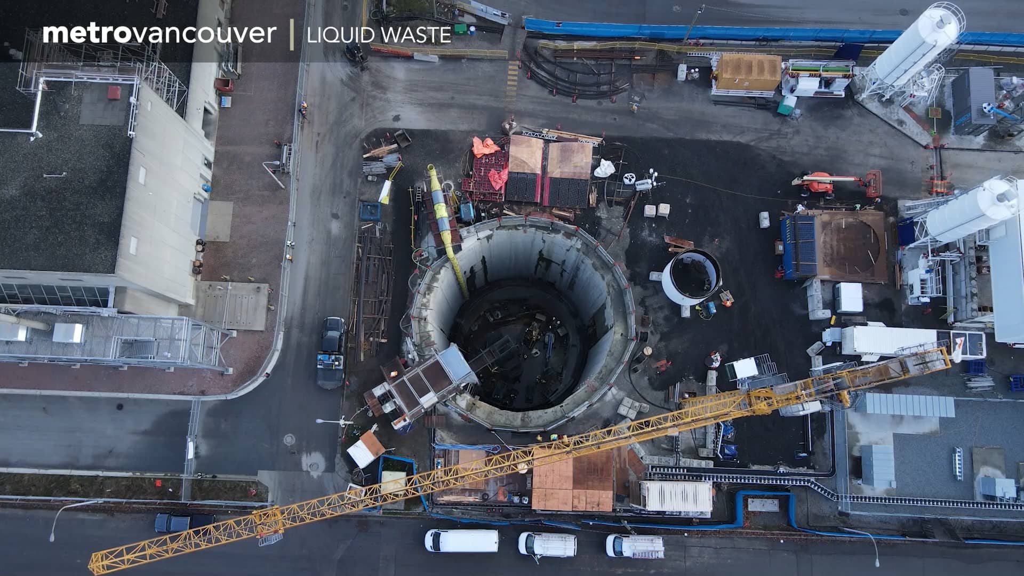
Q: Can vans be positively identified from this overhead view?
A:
Yes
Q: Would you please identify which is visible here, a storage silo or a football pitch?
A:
storage silo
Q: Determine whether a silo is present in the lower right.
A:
No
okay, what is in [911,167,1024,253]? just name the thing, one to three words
silo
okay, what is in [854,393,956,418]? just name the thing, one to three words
shed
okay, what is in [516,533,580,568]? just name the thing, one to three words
van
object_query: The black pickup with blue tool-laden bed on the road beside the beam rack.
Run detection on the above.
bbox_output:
[317,317,345,392]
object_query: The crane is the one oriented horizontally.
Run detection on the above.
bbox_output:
[86,331,953,573]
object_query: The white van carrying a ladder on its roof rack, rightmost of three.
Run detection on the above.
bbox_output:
[603,535,671,565]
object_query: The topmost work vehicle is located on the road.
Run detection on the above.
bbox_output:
[339,33,371,73]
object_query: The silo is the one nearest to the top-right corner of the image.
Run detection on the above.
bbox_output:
[854,0,972,105]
